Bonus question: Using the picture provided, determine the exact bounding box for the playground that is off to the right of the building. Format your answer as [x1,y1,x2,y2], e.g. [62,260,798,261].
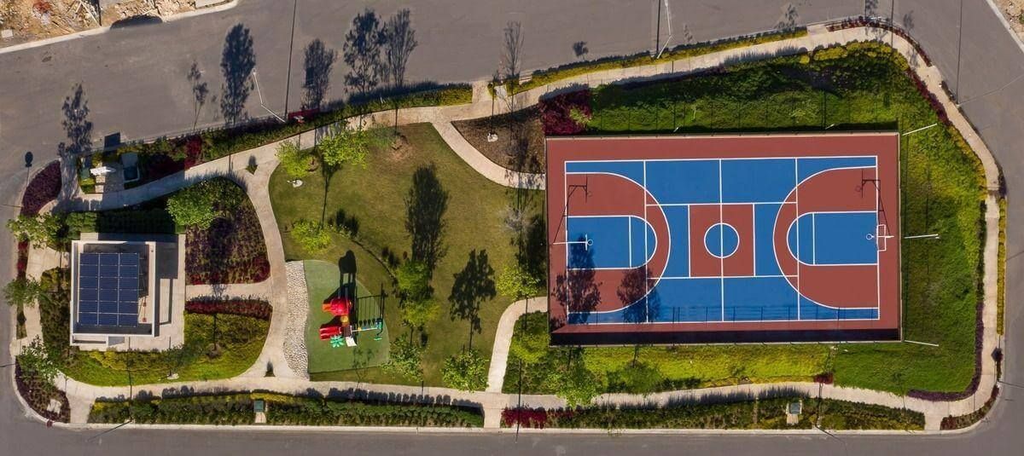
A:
[318,298,384,349]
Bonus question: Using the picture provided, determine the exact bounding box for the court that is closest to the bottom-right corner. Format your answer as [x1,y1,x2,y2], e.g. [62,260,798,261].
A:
[548,135,900,346]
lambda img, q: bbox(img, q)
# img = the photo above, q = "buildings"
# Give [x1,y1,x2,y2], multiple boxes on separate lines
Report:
[71,241,172,345]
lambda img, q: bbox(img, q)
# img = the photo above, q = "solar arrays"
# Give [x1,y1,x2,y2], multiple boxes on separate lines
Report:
[78,253,146,326]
